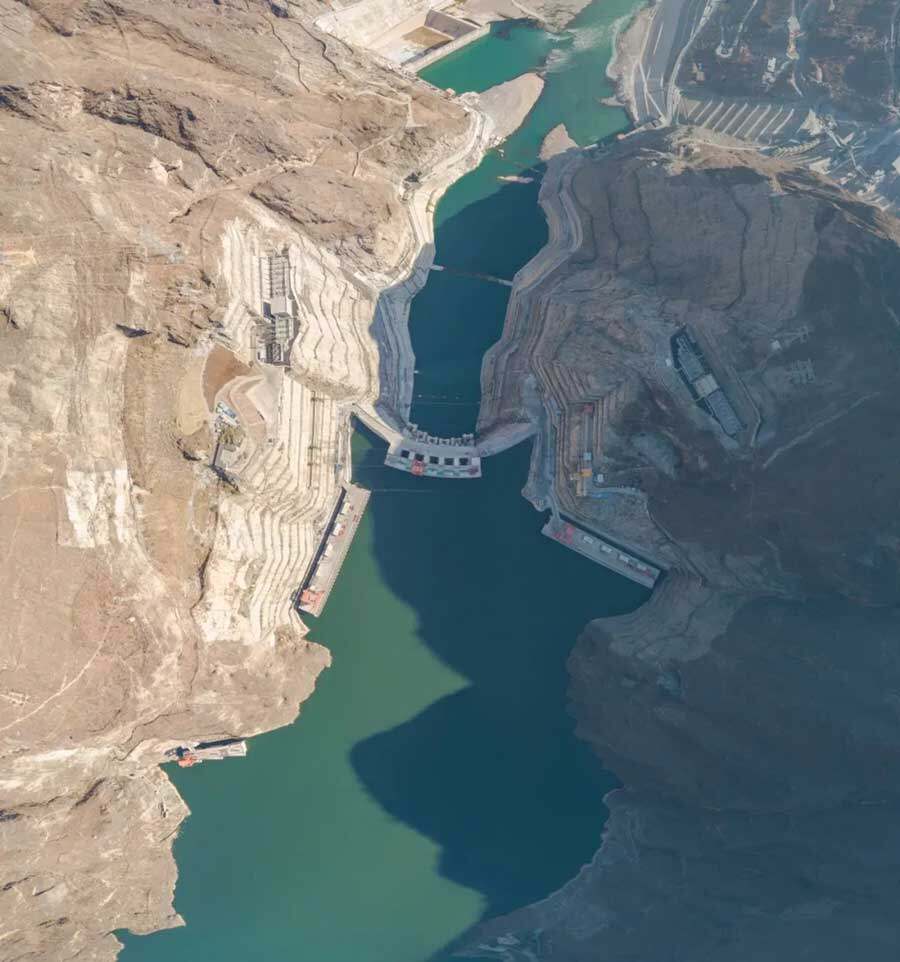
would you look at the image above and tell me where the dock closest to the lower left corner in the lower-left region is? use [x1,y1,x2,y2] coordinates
[185,742,246,763]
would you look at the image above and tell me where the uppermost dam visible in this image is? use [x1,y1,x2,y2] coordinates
[350,404,540,479]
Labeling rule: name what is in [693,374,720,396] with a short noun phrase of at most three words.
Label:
building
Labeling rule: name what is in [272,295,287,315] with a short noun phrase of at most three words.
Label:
building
